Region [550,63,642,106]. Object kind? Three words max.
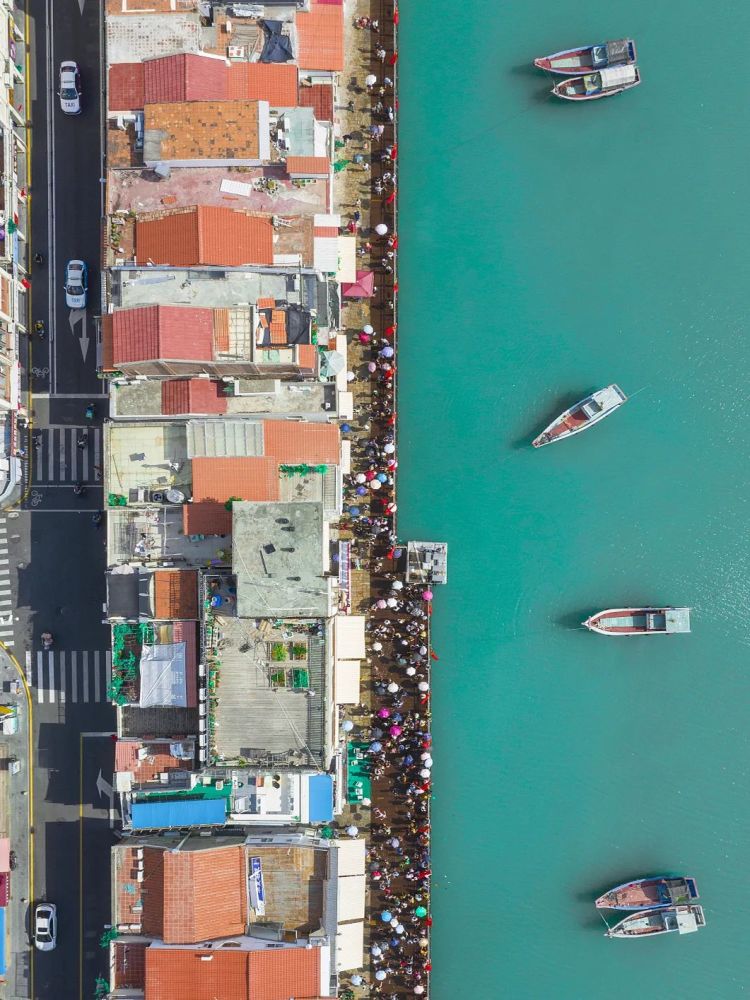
boat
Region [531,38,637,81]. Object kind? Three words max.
boat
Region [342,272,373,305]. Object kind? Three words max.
tent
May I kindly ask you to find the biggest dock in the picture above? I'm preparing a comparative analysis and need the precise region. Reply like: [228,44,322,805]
[406,541,448,585]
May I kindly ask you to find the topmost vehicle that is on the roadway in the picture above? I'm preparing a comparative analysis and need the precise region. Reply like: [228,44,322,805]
[58,62,85,117]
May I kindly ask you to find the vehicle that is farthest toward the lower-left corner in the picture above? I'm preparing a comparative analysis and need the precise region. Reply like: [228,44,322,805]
[32,898,61,949]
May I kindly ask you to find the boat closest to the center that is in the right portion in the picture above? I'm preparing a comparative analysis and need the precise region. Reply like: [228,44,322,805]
[530,383,629,446]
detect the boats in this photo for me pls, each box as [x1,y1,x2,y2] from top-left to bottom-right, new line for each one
[580,604,691,635]
[593,869,698,909]
[550,63,642,106]
[602,899,705,939]
[530,383,629,446]
[531,38,637,81]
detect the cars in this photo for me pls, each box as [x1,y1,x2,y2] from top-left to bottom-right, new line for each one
[58,62,85,117]
[63,260,91,311]
[32,898,61,949]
